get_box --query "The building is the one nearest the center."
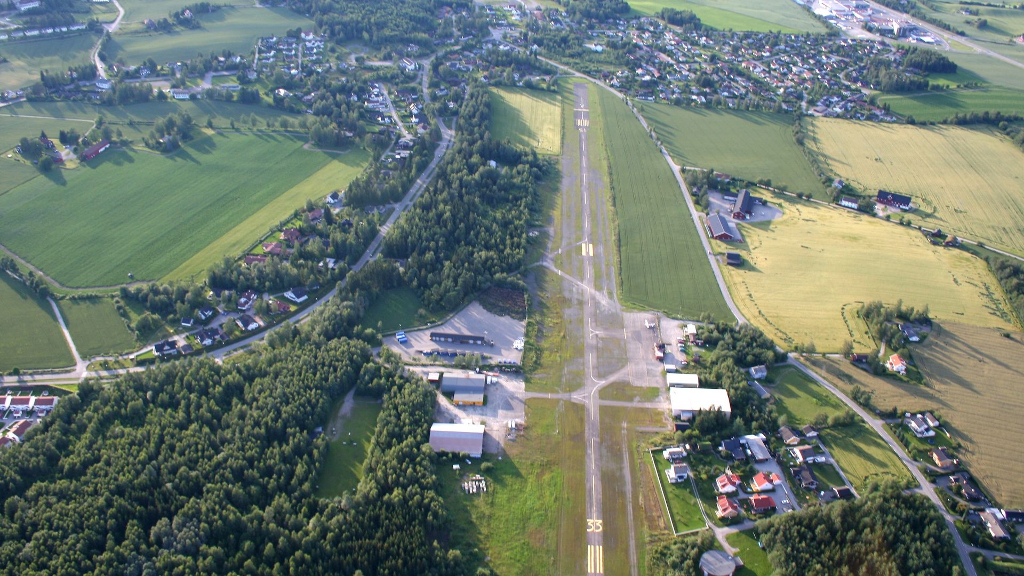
[430,333,485,346]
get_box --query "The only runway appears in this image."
[572,80,605,576]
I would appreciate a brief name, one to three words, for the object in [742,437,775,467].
building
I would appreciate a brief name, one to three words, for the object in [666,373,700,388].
hangar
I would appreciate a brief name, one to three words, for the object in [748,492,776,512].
house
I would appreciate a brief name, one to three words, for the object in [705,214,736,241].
barn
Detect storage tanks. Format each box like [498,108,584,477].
[699,548,748,576]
